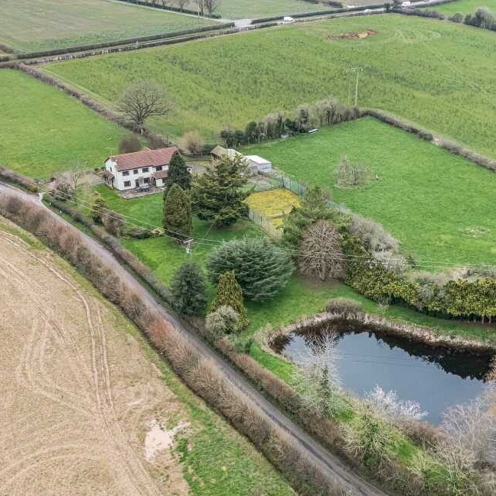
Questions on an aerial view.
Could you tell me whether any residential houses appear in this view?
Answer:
Yes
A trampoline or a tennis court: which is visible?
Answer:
tennis court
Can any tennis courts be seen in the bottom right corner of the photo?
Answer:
No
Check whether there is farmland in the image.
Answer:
Yes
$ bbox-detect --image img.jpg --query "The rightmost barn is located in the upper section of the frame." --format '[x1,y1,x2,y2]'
[248,154,275,174]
